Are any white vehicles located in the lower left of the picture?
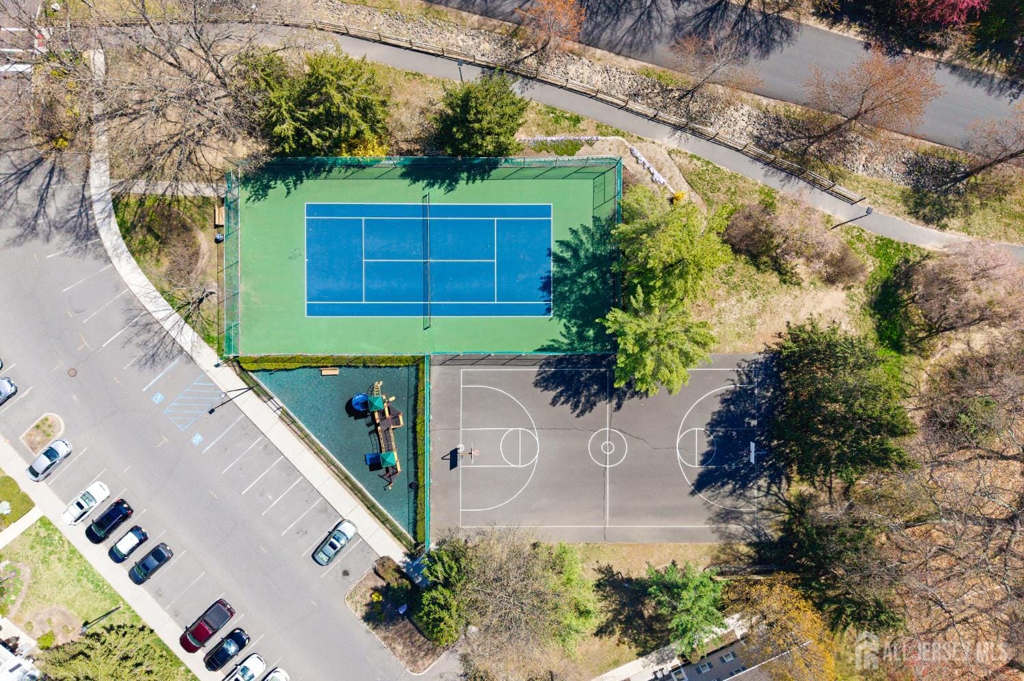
Yes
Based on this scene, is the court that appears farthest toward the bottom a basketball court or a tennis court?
basketball court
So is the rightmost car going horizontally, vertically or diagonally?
diagonally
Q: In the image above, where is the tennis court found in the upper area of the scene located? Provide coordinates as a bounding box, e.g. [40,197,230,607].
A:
[239,167,616,354]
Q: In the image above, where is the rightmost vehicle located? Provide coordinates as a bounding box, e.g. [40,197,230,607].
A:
[311,522,356,570]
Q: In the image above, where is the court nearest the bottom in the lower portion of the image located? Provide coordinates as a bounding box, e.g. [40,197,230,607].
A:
[427,352,779,544]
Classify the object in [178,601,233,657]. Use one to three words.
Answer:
truck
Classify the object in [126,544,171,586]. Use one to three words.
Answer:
car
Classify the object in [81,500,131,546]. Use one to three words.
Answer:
car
